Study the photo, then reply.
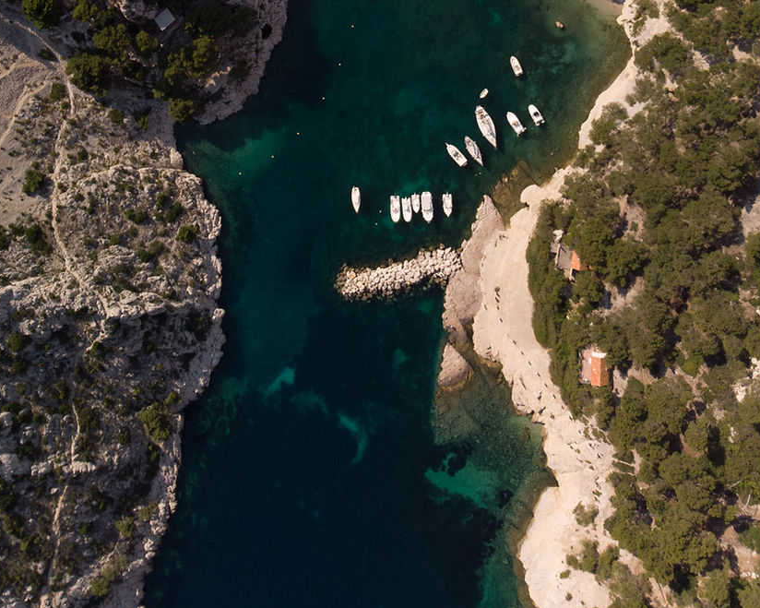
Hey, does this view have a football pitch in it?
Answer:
No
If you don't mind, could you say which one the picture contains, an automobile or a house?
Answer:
house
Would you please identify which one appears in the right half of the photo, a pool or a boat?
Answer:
boat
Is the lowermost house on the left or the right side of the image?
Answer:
right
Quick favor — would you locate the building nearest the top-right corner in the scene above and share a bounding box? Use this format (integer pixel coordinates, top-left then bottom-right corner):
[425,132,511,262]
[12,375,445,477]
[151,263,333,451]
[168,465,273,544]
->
[548,239,592,271]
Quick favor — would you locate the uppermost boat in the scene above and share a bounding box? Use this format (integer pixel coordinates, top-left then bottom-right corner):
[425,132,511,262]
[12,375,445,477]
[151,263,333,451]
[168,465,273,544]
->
[510,55,523,78]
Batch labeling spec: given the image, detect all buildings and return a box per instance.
[580,346,609,388]
[548,239,592,271]
[153,8,172,31]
